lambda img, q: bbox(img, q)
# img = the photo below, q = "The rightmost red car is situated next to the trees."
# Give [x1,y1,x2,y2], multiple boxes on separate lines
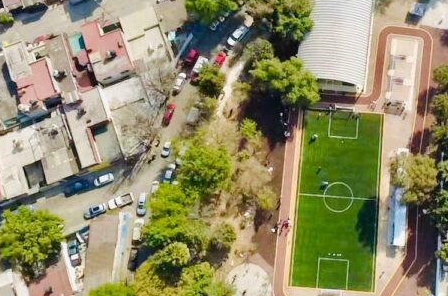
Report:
[212,50,227,69]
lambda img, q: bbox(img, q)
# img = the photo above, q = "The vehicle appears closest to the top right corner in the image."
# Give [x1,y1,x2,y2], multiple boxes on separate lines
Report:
[224,25,249,47]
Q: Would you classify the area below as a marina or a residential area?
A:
residential area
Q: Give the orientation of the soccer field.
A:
from top to bottom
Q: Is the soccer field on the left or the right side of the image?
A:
right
